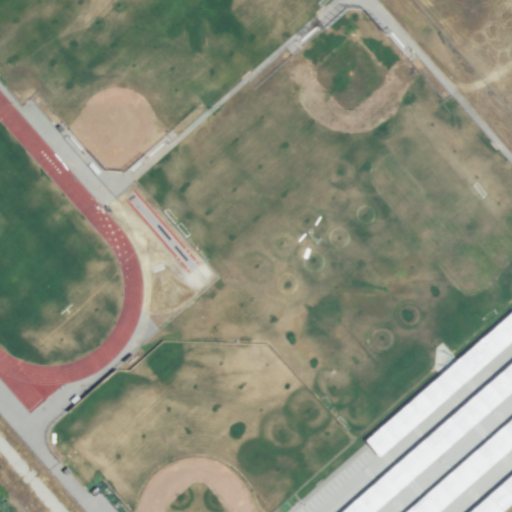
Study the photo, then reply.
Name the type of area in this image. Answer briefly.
sports ground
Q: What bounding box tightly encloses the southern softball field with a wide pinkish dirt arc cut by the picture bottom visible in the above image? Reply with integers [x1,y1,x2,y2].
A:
[137,457,254,512]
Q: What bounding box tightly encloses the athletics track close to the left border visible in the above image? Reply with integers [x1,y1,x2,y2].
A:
[0,90,143,412]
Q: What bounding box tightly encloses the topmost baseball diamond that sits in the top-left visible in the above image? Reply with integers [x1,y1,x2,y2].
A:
[66,87,167,170]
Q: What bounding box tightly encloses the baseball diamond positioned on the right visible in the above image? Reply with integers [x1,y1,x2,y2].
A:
[287,34,416,133]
